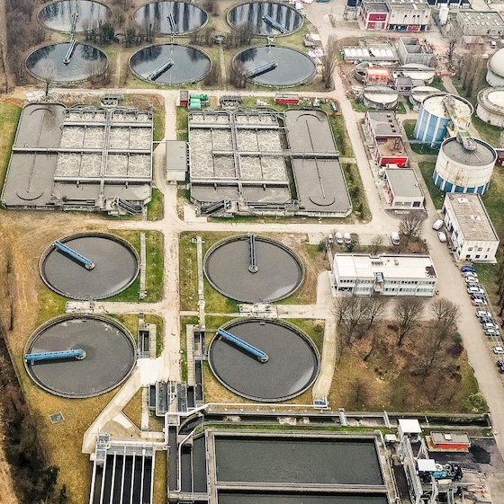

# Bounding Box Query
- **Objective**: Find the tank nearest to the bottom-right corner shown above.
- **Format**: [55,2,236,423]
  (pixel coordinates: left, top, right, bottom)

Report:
[207,317,321,408]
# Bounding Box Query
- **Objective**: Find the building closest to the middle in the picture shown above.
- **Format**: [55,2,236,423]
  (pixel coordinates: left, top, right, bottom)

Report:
[200,198,303,222]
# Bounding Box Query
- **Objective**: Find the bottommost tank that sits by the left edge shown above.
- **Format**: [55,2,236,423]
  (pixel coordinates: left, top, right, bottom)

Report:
[21,313,137,404]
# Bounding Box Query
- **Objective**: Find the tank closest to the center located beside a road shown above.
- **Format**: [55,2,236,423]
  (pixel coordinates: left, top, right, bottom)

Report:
[203,228,305,307]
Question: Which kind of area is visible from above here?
industrial area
